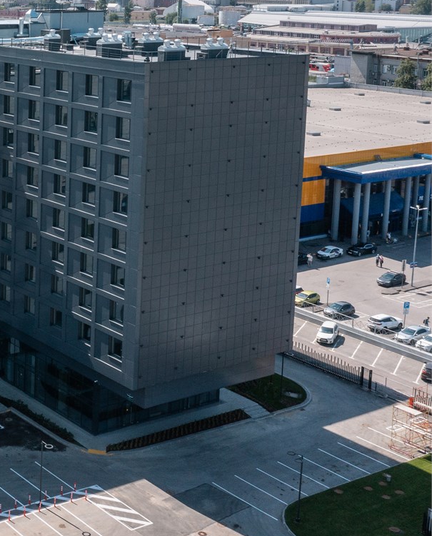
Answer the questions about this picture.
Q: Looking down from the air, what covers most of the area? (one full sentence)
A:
The scene is dominated by buildings.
